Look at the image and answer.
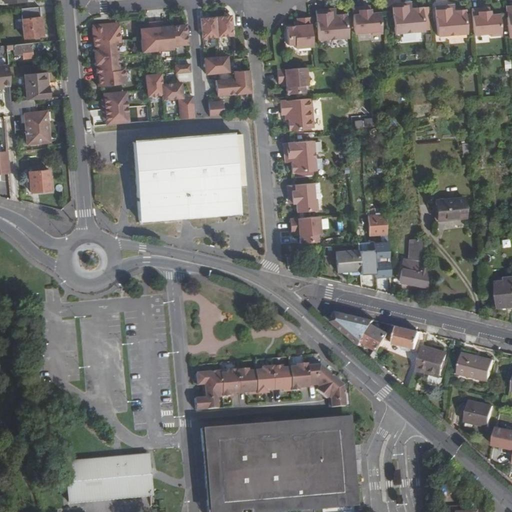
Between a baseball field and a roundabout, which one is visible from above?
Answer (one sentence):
Of the two, only a roundabout appears.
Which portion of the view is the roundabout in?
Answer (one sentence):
The roundabout sits in the left section of the image.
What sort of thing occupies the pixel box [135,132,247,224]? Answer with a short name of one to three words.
building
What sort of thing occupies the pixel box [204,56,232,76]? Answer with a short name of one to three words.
house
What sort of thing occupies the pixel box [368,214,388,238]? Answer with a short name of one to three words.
house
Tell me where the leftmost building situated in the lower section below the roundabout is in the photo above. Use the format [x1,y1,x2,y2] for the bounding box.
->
[68,452,154,506]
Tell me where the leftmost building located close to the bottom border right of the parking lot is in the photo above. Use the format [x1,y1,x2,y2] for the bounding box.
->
[204,414,360,512]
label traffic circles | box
[58,228,122,292]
